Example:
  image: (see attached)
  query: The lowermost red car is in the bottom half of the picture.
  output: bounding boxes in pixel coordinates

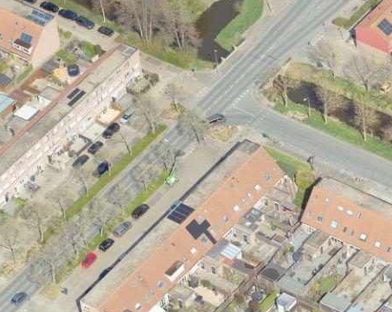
[80,253,97,268]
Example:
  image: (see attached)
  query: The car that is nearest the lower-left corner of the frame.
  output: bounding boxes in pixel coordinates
[11,290,26,305]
